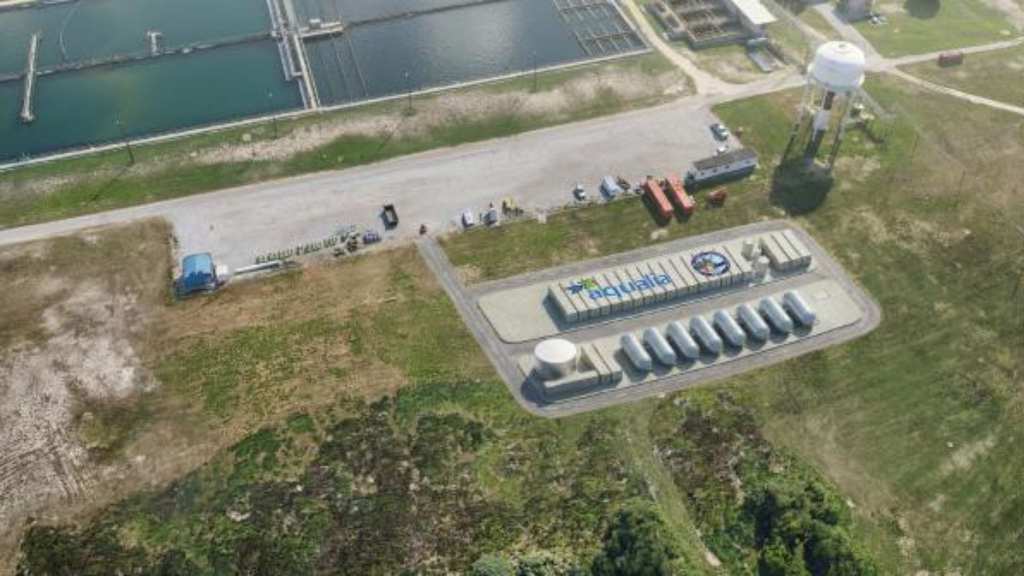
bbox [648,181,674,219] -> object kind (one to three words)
shipping container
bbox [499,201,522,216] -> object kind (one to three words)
work vehicle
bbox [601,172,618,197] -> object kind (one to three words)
vehicle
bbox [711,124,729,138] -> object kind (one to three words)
vehicle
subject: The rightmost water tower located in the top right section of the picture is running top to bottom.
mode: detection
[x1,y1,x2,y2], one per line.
[797,37,862,151]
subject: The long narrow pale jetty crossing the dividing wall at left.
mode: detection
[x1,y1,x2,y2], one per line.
[21,31,38,121]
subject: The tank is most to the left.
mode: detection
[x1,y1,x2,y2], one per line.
[534,337,578,382]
